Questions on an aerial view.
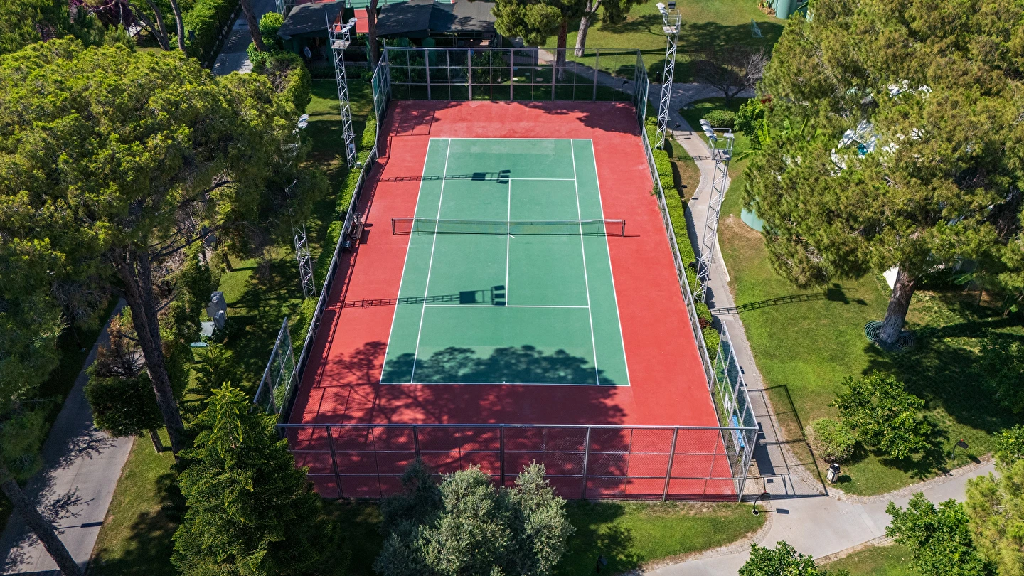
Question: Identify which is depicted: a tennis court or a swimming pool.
tennis court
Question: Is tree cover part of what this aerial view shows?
Yes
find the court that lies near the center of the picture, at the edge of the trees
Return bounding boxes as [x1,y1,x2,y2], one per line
[278,99,740,503]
